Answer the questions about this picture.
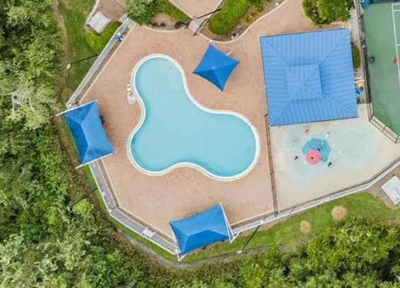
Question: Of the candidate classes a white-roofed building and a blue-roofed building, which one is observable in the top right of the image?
blue-roofed building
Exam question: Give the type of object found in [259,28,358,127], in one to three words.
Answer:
building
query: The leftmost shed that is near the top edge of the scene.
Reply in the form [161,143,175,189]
[89,11,116,32]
